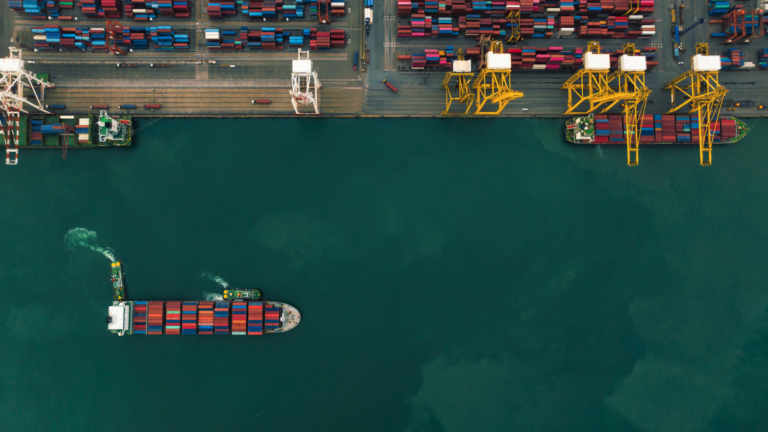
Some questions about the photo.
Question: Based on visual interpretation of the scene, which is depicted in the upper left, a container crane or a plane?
container crane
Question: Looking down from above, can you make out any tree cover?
No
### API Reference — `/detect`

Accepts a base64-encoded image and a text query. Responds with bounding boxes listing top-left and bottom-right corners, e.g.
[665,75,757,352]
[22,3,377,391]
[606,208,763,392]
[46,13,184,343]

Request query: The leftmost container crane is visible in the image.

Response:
[0,40,58,166]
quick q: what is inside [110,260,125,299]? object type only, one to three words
boat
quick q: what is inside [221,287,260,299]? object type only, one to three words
boat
